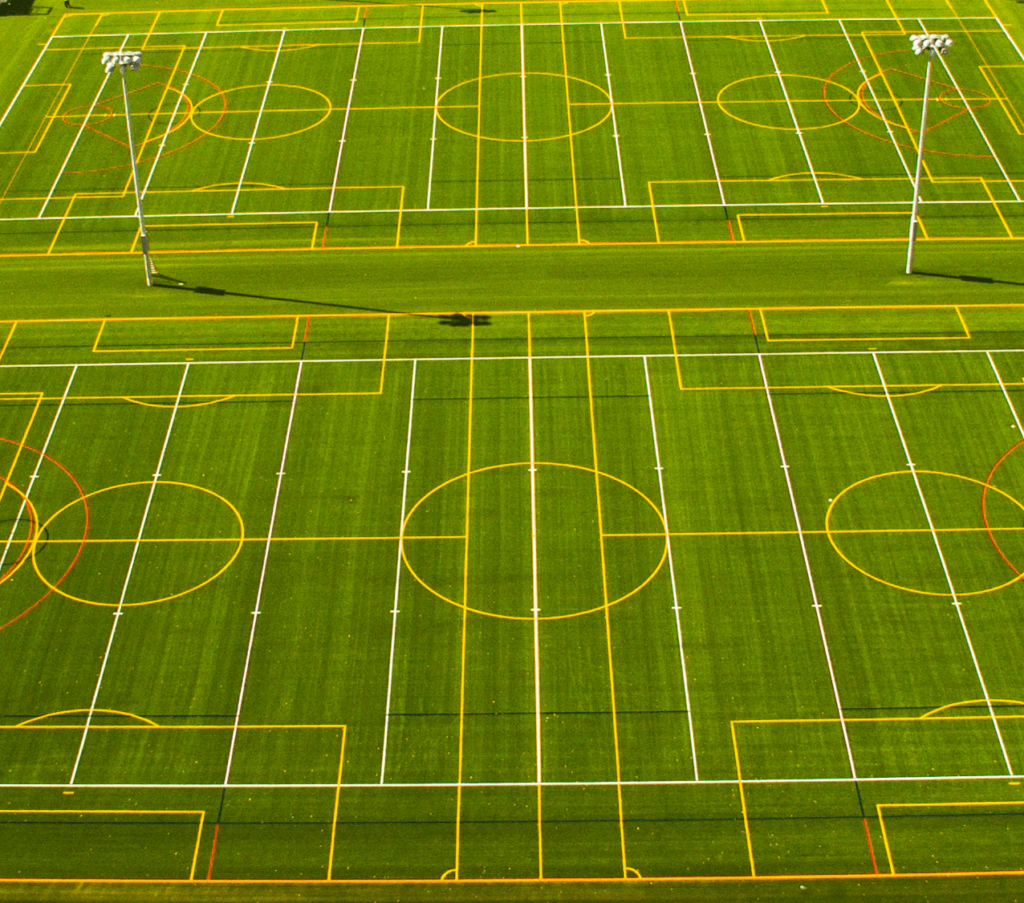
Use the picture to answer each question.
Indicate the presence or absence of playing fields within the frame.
Yes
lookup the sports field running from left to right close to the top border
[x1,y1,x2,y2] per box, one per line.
[0,0,1024,257]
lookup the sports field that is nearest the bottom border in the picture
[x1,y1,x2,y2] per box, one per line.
[0,304,1024,883]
